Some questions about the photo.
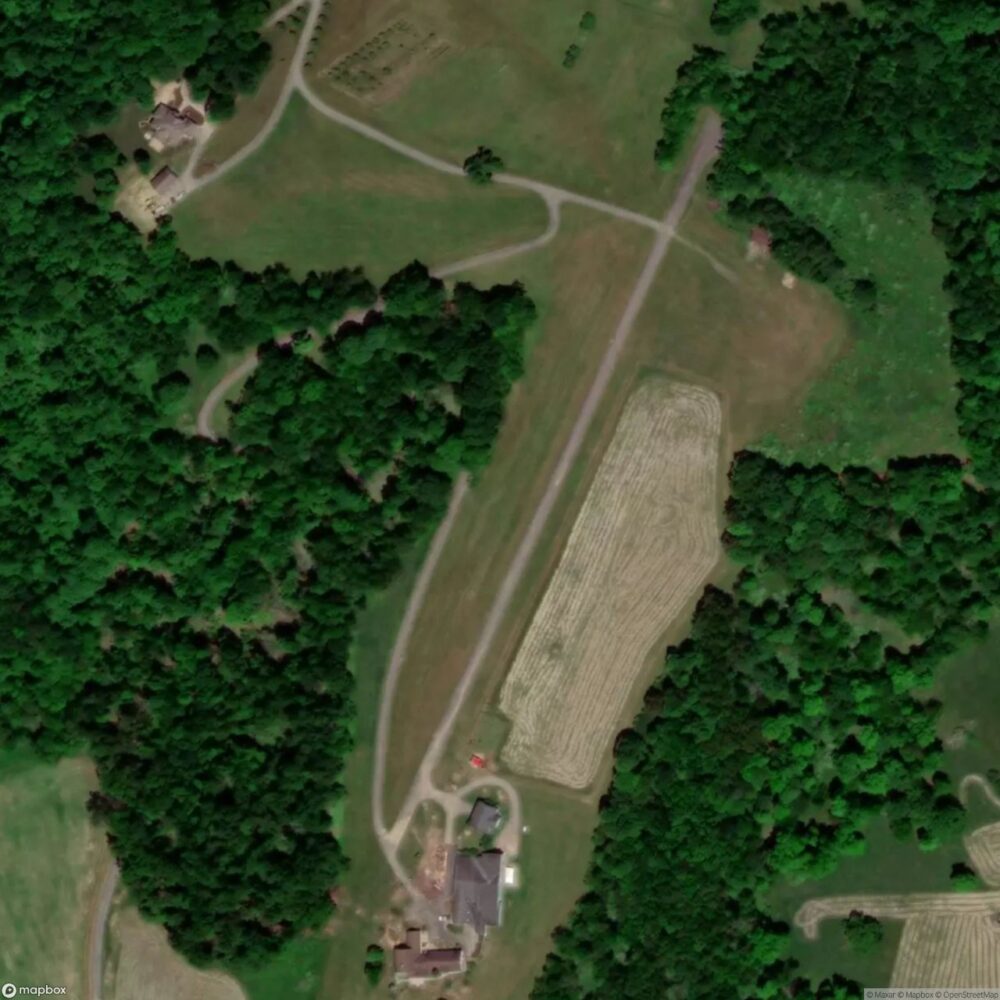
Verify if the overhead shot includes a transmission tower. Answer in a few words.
No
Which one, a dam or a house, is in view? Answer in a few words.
house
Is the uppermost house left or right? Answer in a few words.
left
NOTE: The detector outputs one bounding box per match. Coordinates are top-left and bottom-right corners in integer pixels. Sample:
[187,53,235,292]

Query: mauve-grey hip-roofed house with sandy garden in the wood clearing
[152,104,196,147]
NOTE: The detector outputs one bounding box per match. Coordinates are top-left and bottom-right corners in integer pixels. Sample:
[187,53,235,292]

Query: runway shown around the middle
[385,108,723,846]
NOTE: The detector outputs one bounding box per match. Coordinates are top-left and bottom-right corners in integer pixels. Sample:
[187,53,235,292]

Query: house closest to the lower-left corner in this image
[395,931,461,977]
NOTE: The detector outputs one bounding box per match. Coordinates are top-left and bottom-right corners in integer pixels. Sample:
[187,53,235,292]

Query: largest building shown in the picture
[453,854,500,935]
